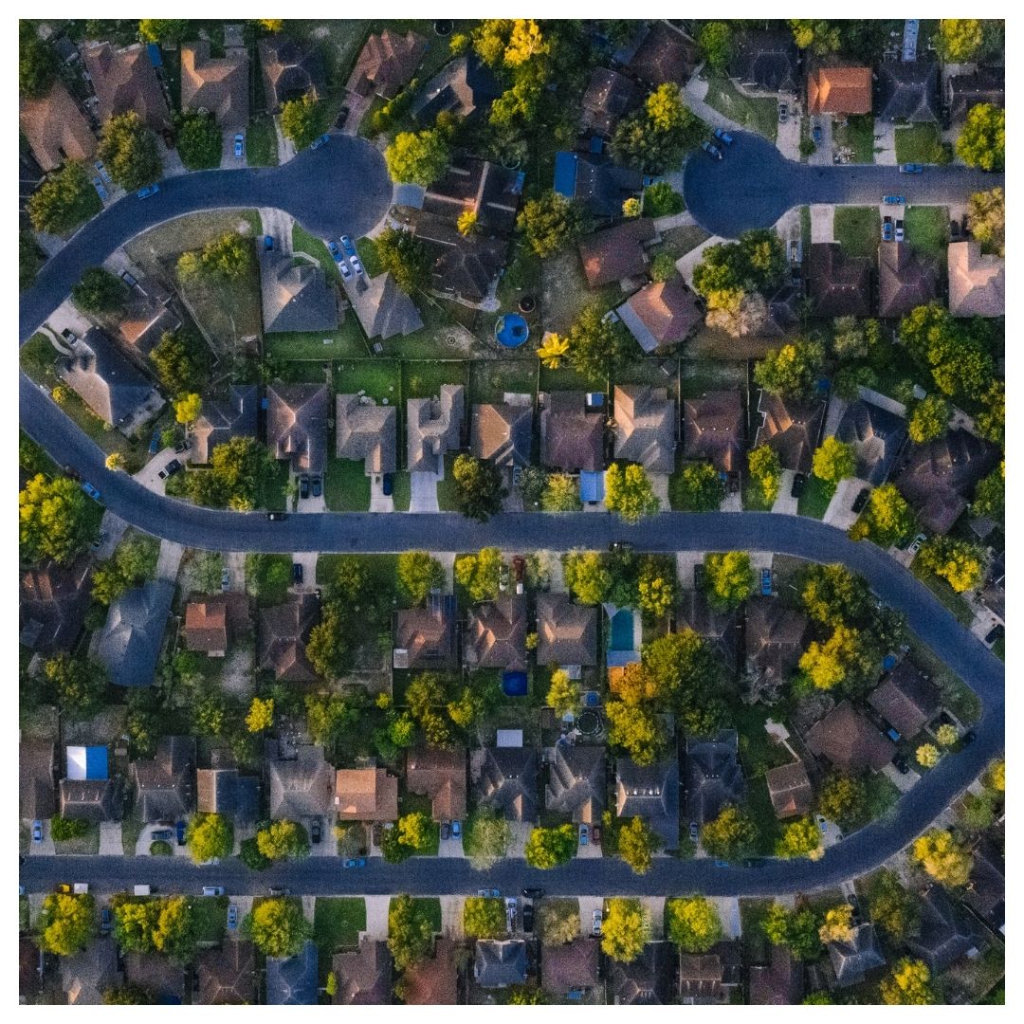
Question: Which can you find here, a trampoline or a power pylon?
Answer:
trampoline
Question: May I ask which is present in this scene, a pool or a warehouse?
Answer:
pool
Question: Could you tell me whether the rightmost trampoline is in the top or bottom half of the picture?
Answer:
bottom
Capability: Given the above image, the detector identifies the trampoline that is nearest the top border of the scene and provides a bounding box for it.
[435,17,454,36]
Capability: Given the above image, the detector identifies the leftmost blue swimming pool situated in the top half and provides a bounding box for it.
[496,314,529,348]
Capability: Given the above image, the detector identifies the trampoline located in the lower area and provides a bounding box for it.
[578,712,600,734]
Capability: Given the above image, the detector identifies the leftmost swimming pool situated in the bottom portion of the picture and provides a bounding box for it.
[503,671,527,696]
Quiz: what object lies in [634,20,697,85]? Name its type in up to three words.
house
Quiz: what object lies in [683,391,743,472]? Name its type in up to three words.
house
